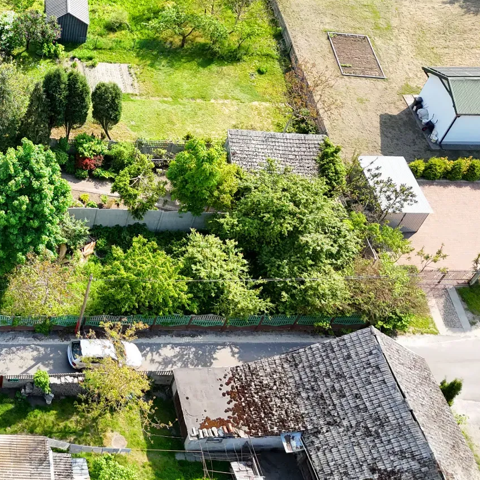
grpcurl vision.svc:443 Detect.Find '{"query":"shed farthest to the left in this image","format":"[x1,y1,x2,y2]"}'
[0,434,59,480]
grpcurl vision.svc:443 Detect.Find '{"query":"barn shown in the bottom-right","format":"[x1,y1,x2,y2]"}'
[230,326,480,480]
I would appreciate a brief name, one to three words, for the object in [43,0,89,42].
shed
